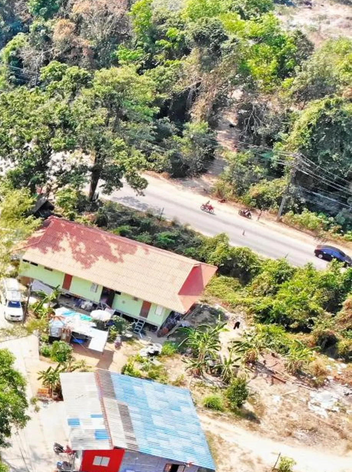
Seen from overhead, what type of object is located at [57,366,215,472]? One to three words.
house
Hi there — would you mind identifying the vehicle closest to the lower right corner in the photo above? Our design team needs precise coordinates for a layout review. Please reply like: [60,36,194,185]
[312,242,352,267]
